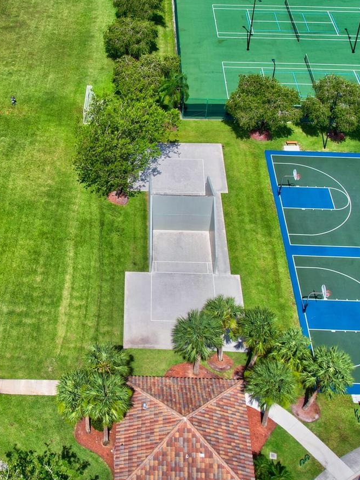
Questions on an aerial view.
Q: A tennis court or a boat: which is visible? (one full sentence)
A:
Looking from above, you can make out a tennis court.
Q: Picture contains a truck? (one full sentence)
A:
No, no truck is visible in the view.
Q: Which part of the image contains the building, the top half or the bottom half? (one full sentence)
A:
It is in the bottom half that the building appears.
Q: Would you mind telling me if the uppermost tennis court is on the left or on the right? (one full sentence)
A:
The uppermost tennis court appears in the right half of the scene.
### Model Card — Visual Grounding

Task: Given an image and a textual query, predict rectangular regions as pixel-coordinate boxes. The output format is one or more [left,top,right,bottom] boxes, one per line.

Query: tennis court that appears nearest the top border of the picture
[176,0,360,52]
